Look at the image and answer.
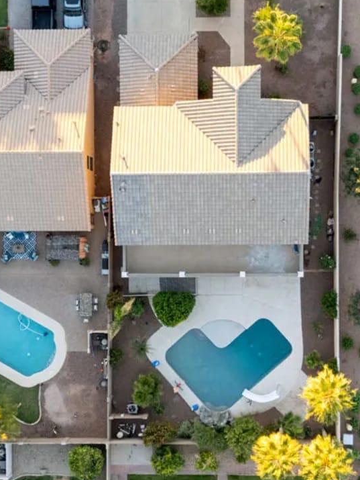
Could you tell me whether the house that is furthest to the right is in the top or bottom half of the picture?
top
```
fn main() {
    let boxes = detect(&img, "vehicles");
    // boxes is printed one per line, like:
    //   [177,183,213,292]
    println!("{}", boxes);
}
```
[29,0,55,29]
[60,0,86,28]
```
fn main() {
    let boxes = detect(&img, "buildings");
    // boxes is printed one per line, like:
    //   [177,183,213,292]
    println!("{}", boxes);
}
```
[0,28,94,232]
[111,32,310,277]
